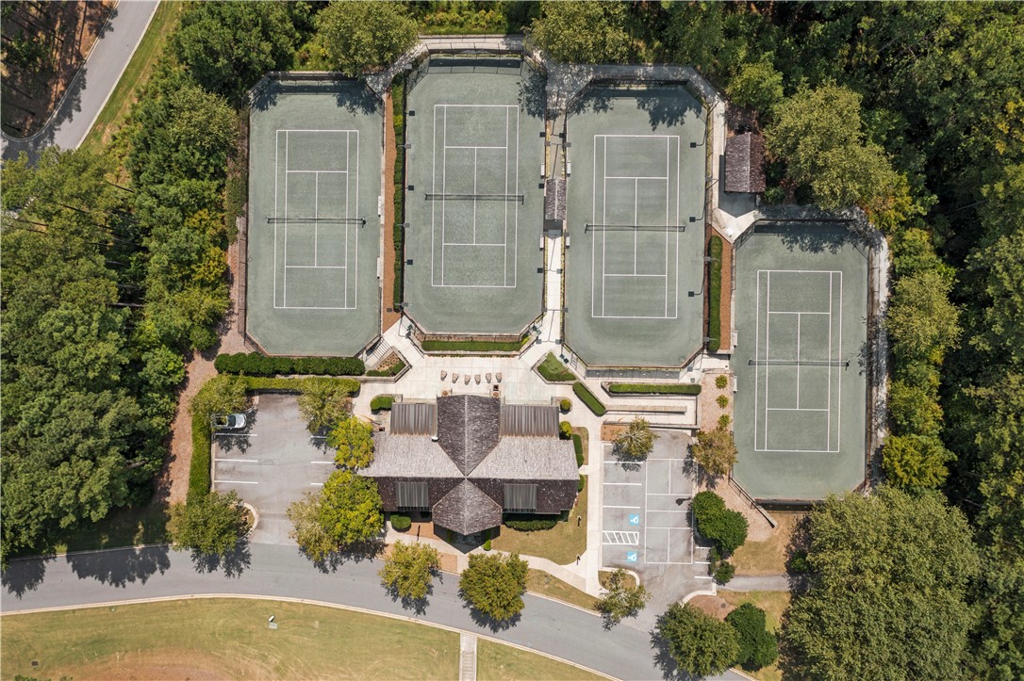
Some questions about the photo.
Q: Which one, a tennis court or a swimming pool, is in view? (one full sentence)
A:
Of the two, only a tennis court appears.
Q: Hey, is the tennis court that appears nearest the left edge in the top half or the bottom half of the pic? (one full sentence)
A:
Seen from above, the tennis court that appears nearest the left edge lies in the top half of the view.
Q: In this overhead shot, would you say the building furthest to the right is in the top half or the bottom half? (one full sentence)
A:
The building furthest to the right sits in the top half of the picture.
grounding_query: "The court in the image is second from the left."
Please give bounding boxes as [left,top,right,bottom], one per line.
[403,53,546,335]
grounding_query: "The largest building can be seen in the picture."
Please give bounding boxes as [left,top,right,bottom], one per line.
[359,394,579,535]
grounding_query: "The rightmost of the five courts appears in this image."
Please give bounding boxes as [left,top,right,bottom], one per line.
[730,218,872,501]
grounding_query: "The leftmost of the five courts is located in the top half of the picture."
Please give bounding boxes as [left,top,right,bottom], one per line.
[244,80,385,357]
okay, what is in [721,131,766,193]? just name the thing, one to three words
building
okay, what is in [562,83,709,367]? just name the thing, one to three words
tennis court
